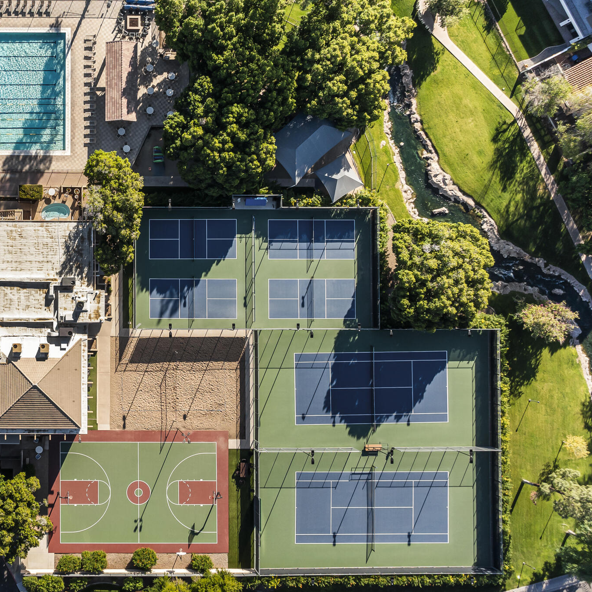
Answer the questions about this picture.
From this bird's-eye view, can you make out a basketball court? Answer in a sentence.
Yes, the picture does show a basketball court.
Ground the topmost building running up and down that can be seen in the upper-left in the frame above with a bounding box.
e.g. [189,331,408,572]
[106,39,138,123]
